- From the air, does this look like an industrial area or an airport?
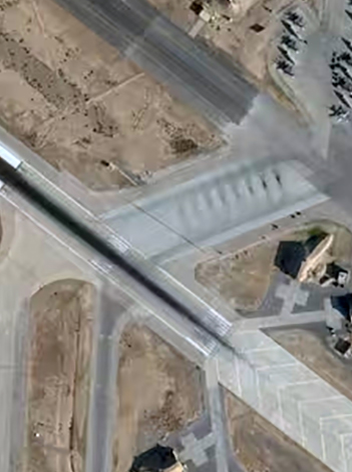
airport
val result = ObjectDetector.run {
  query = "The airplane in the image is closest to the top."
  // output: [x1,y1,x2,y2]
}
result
[287,12,302,26]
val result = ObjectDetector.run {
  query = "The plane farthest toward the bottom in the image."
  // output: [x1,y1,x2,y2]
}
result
[335,110,350,125]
